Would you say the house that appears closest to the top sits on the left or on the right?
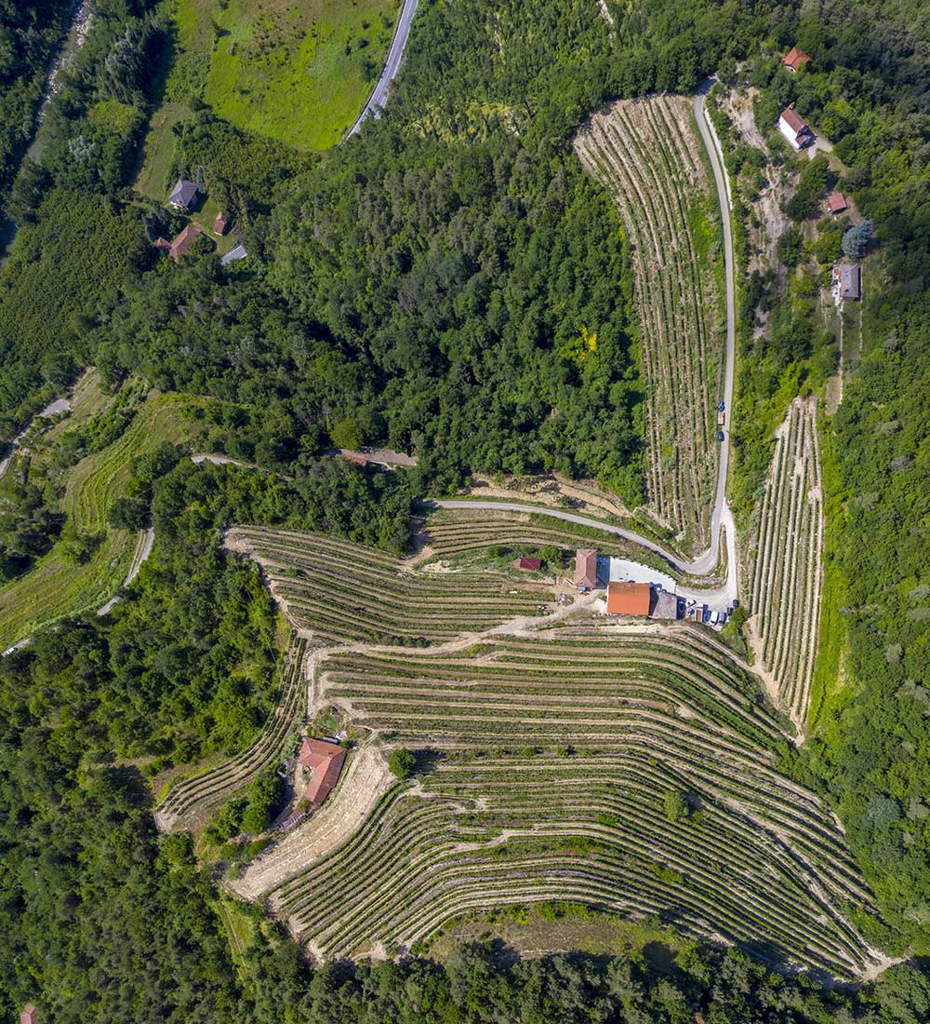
right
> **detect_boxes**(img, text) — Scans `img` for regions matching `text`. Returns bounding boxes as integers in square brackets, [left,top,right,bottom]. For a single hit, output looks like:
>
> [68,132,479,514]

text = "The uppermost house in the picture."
[784,48,811,72]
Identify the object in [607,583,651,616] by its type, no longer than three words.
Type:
barn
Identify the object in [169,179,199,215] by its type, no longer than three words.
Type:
house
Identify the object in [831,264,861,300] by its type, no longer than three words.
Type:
house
